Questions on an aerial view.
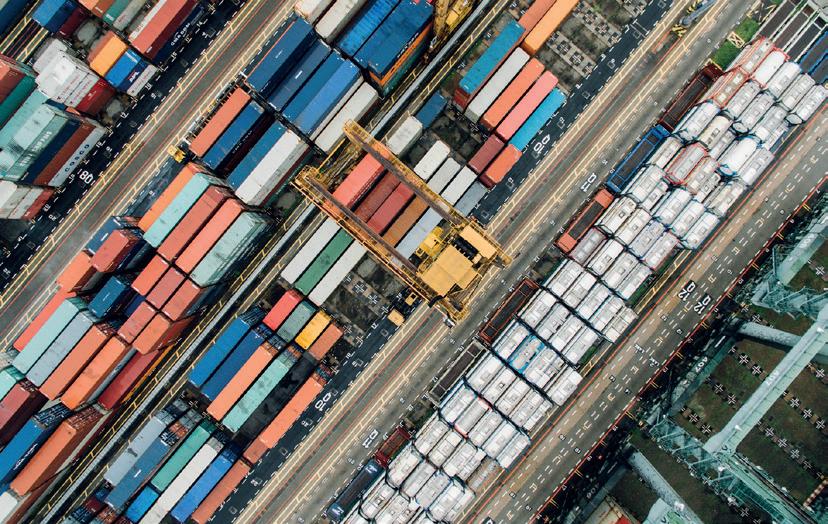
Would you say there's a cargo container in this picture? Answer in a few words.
Yes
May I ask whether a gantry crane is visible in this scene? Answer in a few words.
Yes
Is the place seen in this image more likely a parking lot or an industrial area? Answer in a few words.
industrial area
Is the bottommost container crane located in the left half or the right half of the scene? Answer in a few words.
right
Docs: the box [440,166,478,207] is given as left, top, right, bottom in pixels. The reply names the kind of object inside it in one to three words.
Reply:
shipping container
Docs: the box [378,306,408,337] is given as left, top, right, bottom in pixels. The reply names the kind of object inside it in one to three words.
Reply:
truck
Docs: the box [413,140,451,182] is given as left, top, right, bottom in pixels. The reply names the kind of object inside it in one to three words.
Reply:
shipping container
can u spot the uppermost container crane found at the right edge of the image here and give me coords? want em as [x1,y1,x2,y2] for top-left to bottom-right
[749,199,828,357]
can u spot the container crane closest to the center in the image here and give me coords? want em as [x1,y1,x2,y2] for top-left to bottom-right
[289,119,513,327]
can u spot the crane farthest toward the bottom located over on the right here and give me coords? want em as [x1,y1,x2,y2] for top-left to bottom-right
[548,439,712,524]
